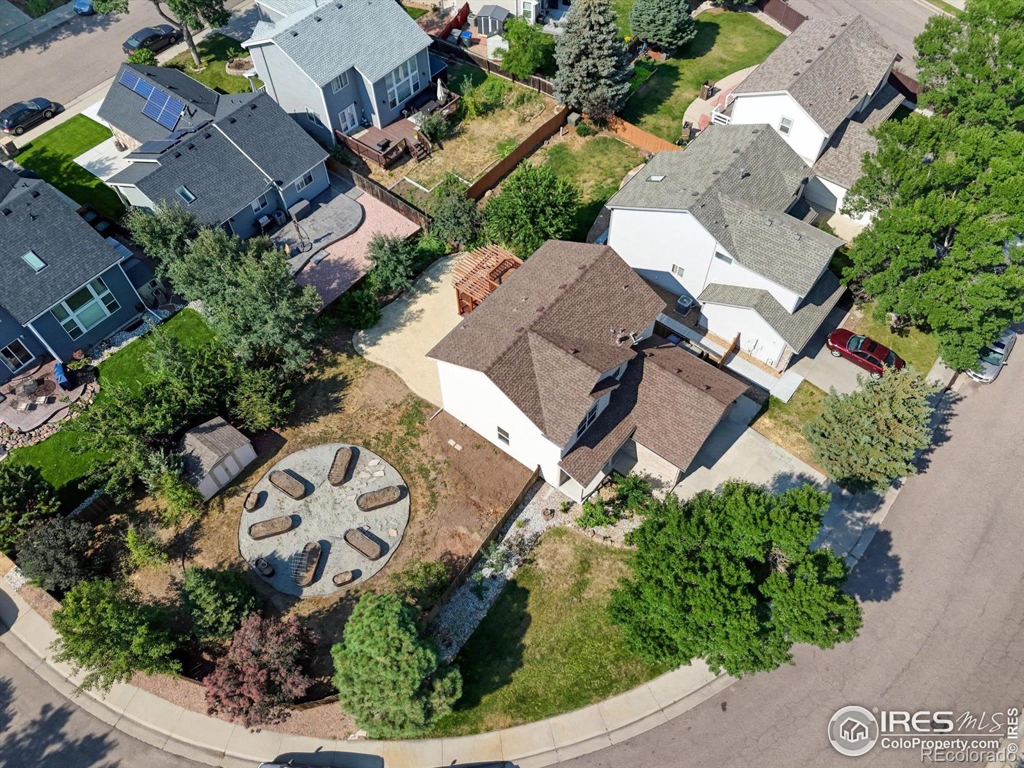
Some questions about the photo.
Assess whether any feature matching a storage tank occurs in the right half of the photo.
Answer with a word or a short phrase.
No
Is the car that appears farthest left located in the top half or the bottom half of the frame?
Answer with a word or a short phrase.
top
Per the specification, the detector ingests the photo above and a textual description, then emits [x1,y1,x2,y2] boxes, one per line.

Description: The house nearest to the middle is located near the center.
[424,239,750,505]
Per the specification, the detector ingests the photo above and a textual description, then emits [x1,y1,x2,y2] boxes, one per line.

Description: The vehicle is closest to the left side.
[0,95,55,135]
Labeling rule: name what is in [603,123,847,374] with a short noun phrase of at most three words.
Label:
house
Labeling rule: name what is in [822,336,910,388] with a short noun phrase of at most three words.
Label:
car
